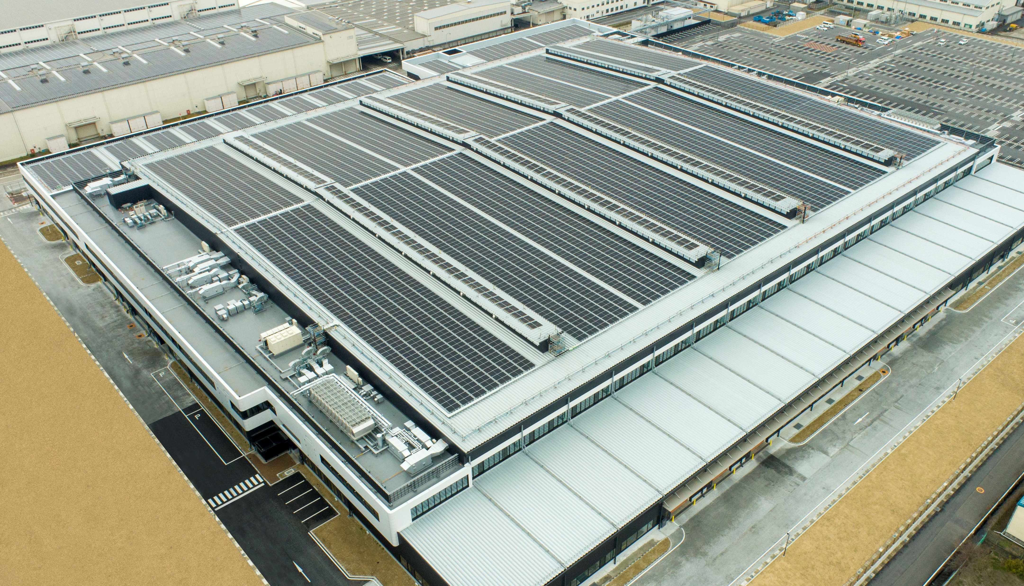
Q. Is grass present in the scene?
Yes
